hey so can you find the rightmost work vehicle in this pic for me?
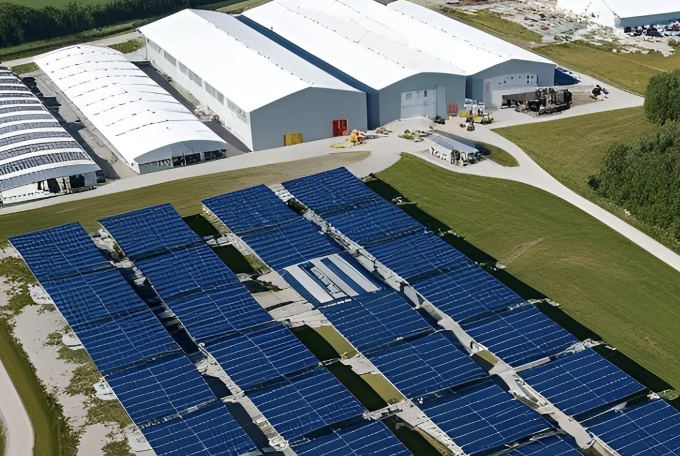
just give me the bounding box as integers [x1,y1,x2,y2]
[592,80,612,102]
